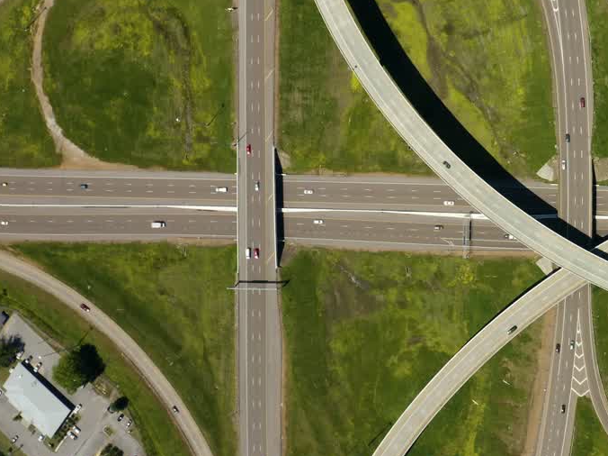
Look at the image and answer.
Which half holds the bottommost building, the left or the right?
left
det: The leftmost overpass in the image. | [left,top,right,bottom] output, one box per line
[235,142,278,272]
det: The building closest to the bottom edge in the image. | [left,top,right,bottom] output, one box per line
[2,361,75,439]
